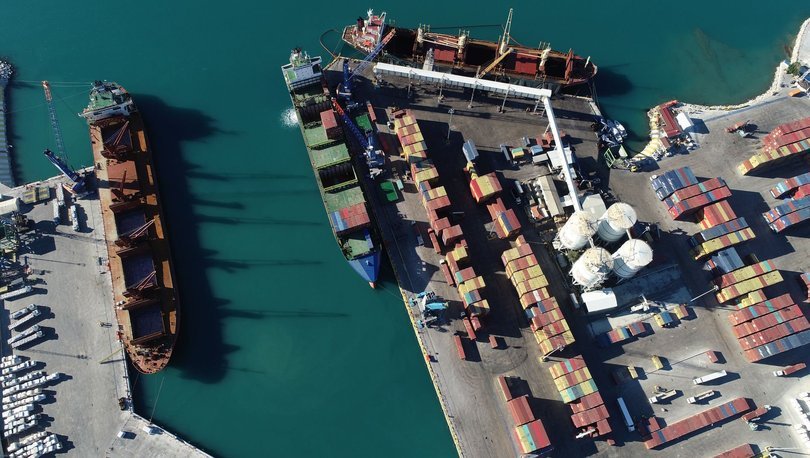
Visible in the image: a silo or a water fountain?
silo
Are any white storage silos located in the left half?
No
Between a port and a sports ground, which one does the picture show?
port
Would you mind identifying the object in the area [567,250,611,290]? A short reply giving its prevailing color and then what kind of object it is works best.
white silo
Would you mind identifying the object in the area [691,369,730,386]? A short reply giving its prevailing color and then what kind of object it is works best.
white vehicle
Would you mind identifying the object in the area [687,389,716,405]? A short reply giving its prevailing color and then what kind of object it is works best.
white vehicle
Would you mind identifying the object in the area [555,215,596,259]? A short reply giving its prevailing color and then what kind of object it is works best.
white silo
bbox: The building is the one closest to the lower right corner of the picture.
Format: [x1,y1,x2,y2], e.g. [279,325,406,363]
[576,284,619,317]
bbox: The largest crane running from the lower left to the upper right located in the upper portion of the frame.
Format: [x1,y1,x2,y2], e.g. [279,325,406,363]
[330,28,396,108]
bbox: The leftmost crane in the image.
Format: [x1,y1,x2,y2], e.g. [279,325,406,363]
[40,81,95,203]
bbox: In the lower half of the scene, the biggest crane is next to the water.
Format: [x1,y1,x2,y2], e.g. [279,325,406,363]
[410,278,454,326]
